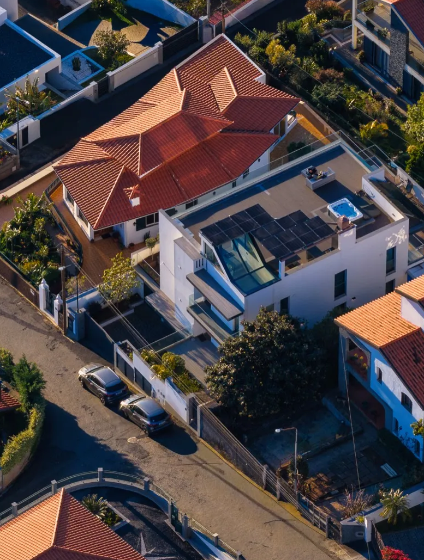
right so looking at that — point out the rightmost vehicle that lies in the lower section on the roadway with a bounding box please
[120,395,169,434]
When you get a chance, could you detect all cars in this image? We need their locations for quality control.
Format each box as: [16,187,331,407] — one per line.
[79,365,127,405]
[120,395,169,434]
